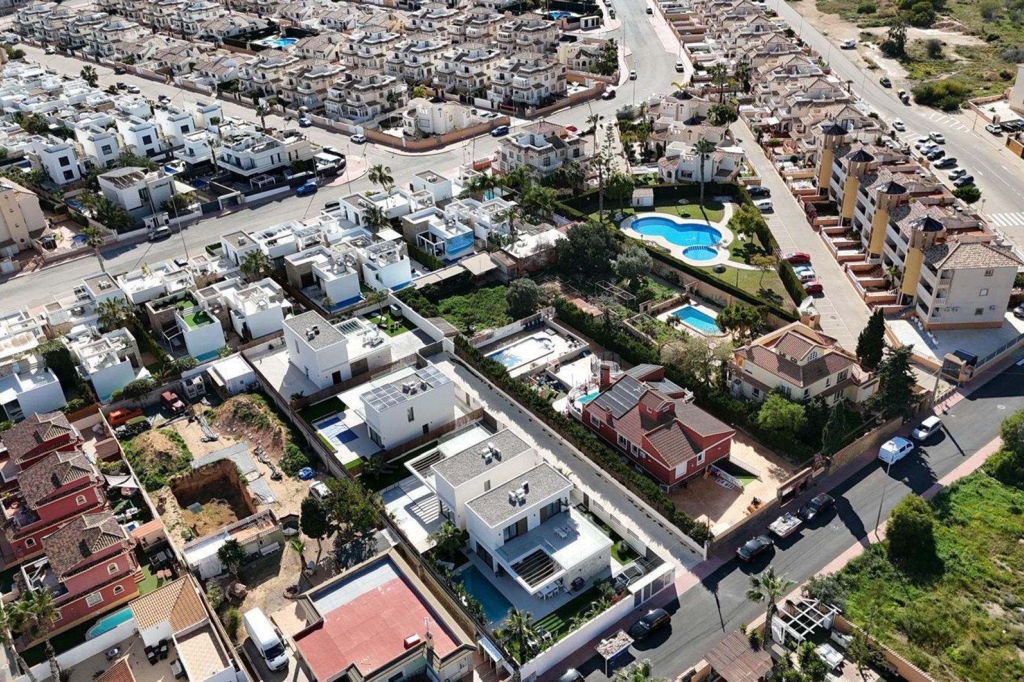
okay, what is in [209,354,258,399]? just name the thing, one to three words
house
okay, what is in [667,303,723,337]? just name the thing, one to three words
swimming pool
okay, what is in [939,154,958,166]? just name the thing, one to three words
vehicle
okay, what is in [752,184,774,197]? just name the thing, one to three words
vehicle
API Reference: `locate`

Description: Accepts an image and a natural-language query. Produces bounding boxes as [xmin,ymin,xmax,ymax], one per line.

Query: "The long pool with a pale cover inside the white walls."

[494,333,564,369]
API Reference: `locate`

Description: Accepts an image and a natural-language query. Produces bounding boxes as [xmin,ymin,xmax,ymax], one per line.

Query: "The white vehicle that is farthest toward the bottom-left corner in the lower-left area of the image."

[237,601,287,669]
